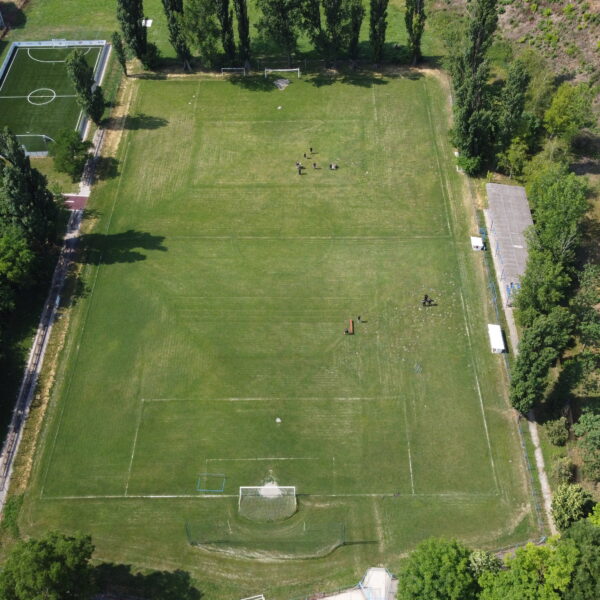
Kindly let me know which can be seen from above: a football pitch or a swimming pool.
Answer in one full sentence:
It is a football pitch that can be seen here.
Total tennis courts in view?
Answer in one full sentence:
No tennis courts are visible.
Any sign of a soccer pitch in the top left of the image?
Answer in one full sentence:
Yes, there is a soccer pitch in the top left of the image.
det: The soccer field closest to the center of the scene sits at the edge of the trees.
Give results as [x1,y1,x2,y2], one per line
[41,79,499,498]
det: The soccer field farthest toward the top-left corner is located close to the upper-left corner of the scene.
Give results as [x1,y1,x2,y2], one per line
[0,45,107,159]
